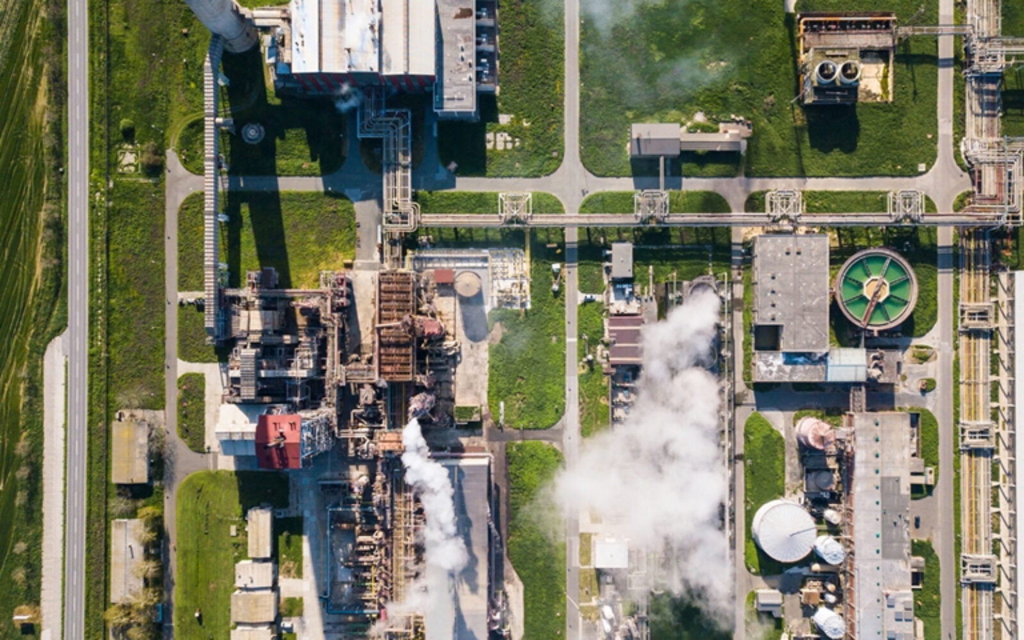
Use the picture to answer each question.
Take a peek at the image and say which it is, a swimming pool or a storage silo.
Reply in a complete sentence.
It is a storage silo that can be seen here.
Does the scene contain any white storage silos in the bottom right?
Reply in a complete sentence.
Yes, I can see a white storage silo in the bottom right.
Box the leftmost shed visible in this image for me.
[11,604,44,625]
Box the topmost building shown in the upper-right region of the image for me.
[795,13,897,98]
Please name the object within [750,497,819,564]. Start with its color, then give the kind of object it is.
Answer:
white storage tank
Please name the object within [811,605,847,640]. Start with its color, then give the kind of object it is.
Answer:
white silo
